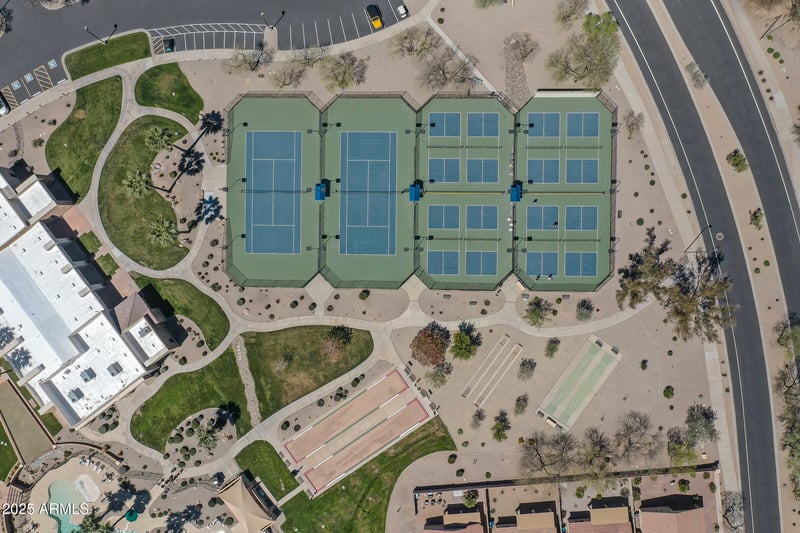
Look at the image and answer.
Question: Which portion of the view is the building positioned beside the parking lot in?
left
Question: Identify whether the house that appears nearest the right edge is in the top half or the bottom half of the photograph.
bottom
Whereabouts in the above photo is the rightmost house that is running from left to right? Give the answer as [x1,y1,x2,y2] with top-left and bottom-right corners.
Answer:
[638,503,703,533]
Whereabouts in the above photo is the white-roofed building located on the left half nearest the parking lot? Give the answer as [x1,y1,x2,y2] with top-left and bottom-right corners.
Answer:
[0,153,177,426]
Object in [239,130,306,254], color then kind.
blue tennis court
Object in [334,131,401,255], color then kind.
blue tennis court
